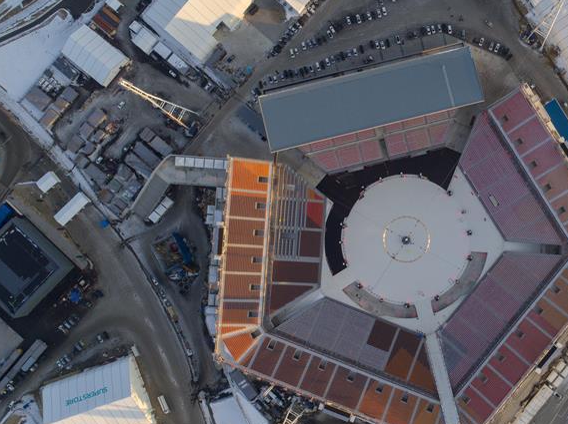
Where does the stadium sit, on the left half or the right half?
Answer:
right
